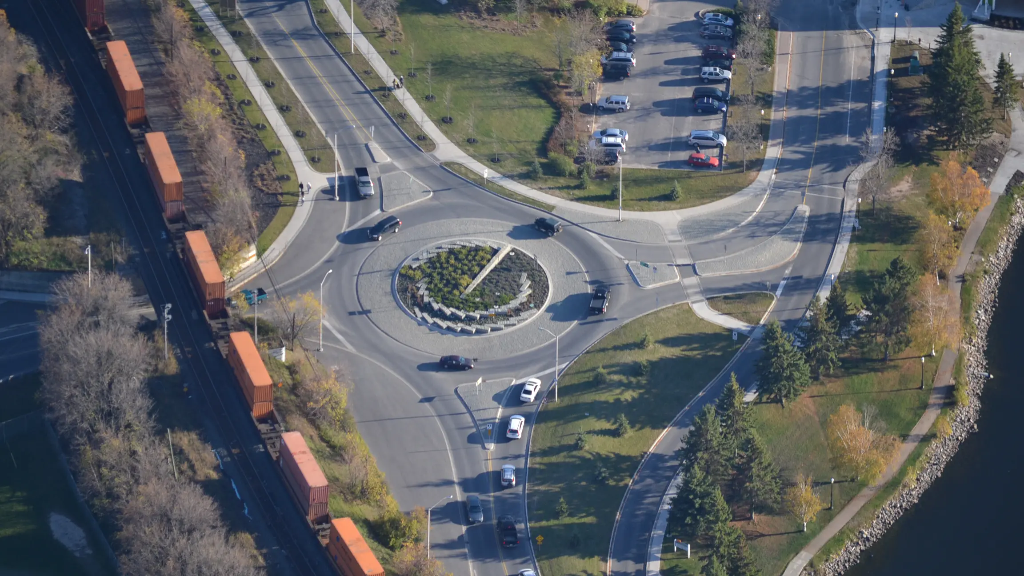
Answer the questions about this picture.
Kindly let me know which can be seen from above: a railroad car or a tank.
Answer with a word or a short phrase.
railroad car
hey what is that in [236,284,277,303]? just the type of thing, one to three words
vehicle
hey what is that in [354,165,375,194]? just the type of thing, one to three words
truck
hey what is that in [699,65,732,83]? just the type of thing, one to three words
car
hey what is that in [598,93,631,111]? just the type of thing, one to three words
car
